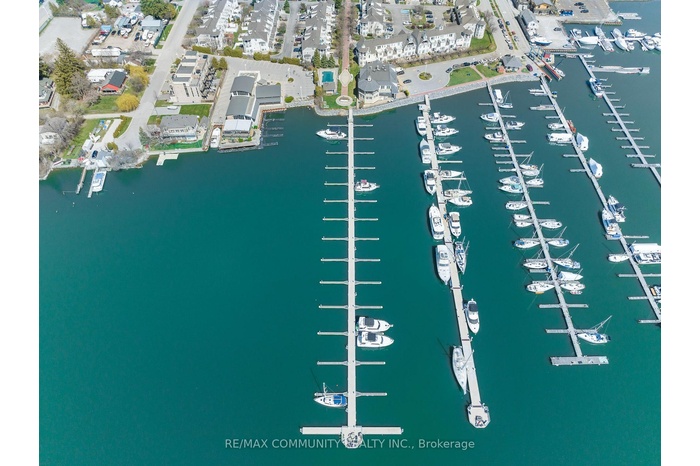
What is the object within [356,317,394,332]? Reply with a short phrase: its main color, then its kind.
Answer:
white boat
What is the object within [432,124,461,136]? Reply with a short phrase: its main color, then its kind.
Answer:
white boat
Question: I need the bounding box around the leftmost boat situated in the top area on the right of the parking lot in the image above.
[315,124,349,139]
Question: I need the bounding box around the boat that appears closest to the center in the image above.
[354,179,380,192]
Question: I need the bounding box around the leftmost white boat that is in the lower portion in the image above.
[314,389,346,407]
